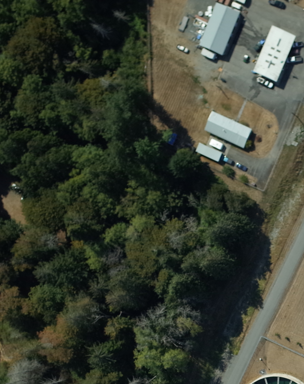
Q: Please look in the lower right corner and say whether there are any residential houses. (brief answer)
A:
No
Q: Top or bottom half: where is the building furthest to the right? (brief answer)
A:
top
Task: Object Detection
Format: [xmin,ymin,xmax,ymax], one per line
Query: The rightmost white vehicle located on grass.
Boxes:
[207,137,224,151]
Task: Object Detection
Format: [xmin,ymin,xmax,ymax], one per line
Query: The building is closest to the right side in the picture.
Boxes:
[253,26,297,81]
